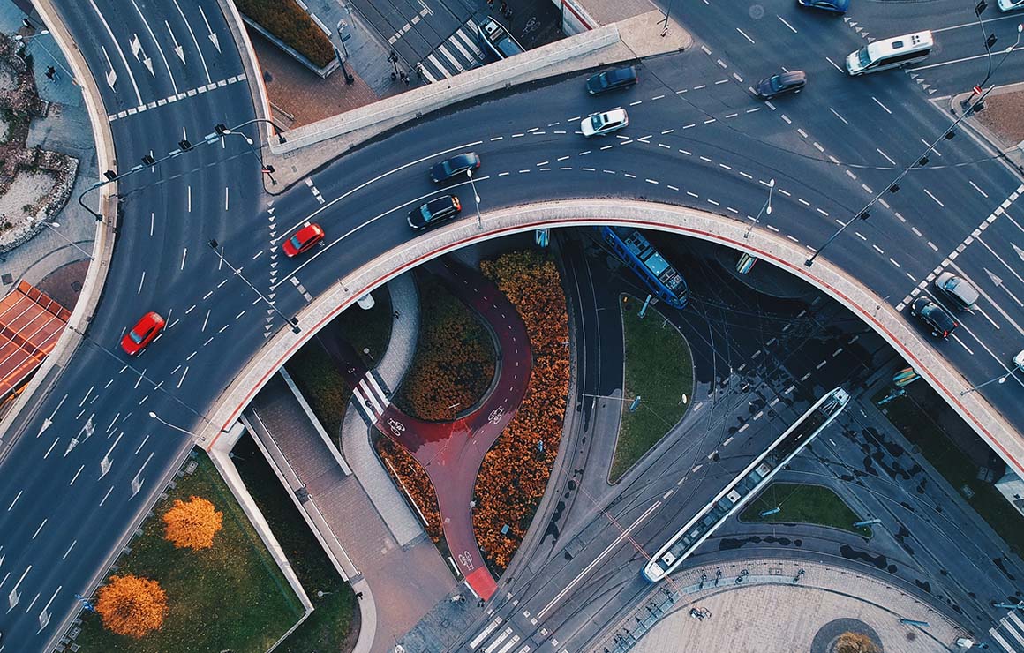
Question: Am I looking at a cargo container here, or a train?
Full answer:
Of the two, only a train appears.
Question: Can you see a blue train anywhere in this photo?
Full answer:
Yes, the photo shows a blue train.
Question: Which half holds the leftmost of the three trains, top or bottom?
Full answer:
It is in the top half that the leftmost of the three trains appears.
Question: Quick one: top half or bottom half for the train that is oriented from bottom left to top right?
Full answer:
You can find the train that is oriented from bottom left to top right in the bottom half.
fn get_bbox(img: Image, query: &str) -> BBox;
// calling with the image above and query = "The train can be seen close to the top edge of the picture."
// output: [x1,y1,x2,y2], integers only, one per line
[477,16,525,63]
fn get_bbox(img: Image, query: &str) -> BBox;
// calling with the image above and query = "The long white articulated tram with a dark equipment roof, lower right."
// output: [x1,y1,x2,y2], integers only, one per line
[641,389,851,579]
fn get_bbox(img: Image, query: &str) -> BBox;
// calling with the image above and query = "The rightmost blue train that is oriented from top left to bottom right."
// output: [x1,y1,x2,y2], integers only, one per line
[595,226,690,317]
